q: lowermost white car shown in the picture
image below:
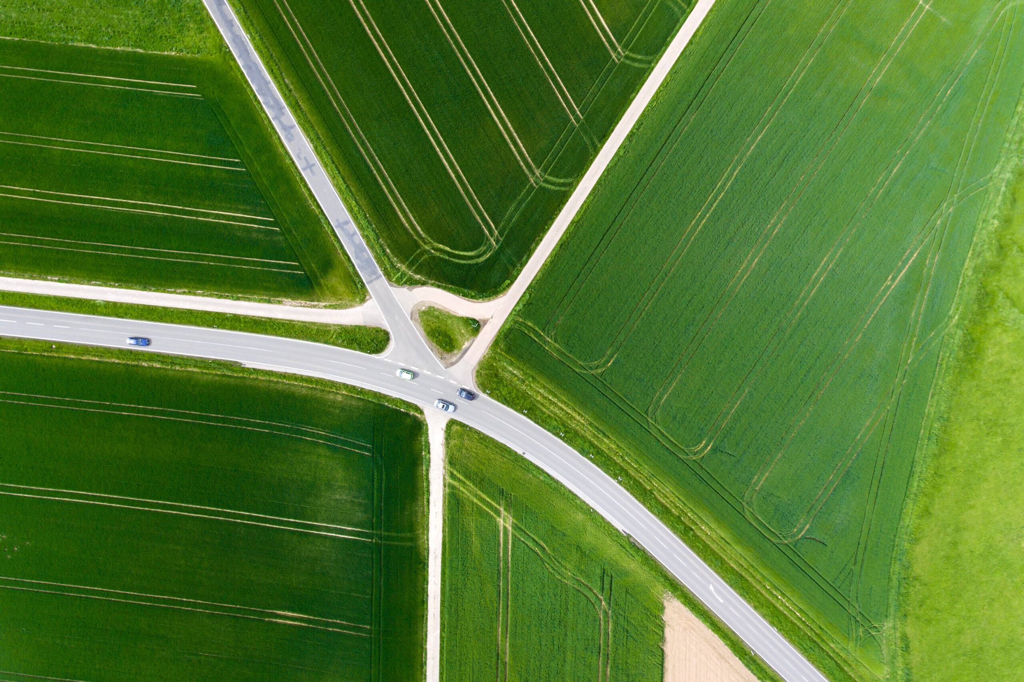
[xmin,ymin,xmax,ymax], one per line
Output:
[433,399,456,413]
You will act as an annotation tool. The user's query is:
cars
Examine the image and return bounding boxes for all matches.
[125,336,148,346]
[396,369,414,380]
[456,388,476,402]
[433,399,456,413]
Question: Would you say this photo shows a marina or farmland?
farmland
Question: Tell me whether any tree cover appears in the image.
No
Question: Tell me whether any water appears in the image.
No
